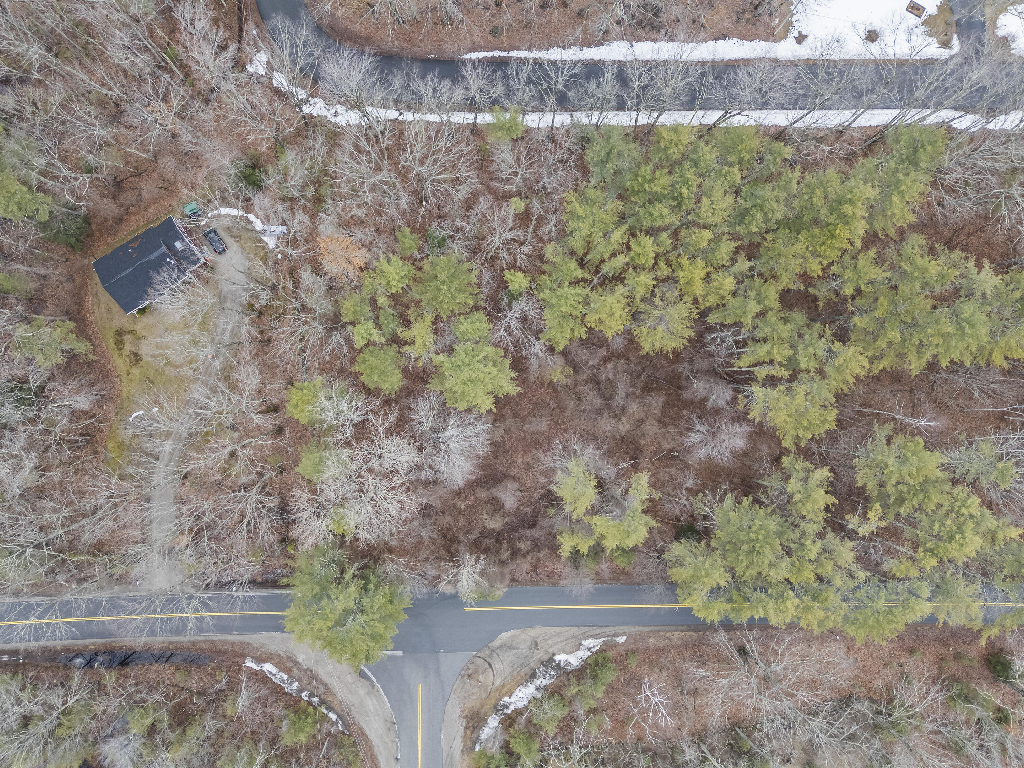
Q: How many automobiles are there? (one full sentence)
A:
Just 1 automobile appears in this view.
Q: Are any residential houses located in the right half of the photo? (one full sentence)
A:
No, I can find no residential house in the right half of the photo.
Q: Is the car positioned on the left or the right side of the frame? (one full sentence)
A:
You can find the car on the left side of the picture.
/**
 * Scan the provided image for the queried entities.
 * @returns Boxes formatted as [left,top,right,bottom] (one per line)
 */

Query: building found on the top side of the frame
[92,215,211,322]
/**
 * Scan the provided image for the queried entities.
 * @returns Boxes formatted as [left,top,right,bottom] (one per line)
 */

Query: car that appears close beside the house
[205,227,227,256]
